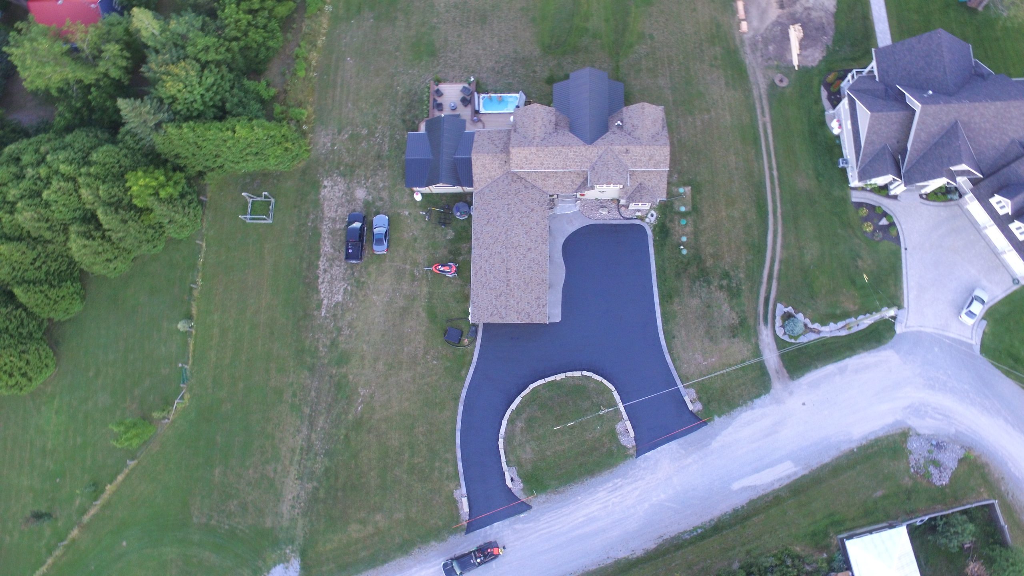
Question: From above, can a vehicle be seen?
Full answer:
Yes, there's a vehicle down there.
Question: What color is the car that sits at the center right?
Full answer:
The car that sits at the center right looks white in the image.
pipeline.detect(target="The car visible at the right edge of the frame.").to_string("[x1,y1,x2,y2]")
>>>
[954,285,991,331]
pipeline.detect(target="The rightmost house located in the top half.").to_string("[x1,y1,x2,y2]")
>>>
[834,29,1024,278]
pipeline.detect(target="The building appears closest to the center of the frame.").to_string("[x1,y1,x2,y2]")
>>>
[469,67,670,324]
